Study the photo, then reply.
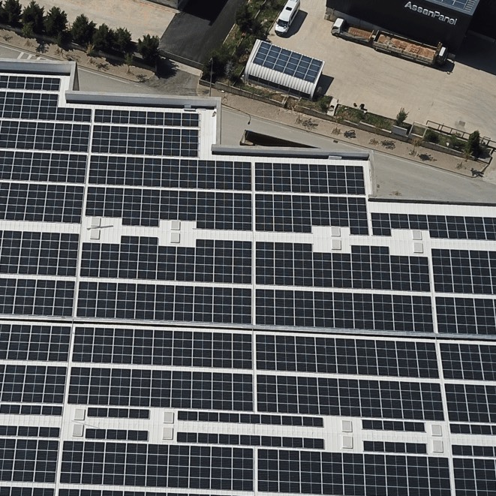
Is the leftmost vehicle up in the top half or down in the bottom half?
top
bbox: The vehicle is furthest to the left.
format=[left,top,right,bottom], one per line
[274,0,299,36]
